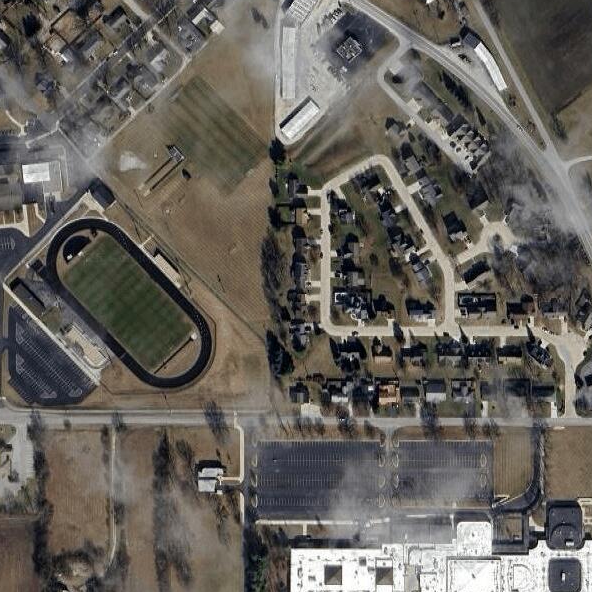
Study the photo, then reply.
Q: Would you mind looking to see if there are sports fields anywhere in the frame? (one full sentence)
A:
Yes, the photo shows a sports field.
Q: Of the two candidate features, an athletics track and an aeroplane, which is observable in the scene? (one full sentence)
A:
Of the two, only an athletics track appears.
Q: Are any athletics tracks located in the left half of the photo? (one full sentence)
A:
Yes, I can see an athletics track in the left half of the photo.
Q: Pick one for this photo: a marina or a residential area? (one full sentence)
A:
This looks like a residential area.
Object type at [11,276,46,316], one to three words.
building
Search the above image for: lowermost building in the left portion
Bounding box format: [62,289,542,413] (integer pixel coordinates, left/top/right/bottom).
[198,468,223,494]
